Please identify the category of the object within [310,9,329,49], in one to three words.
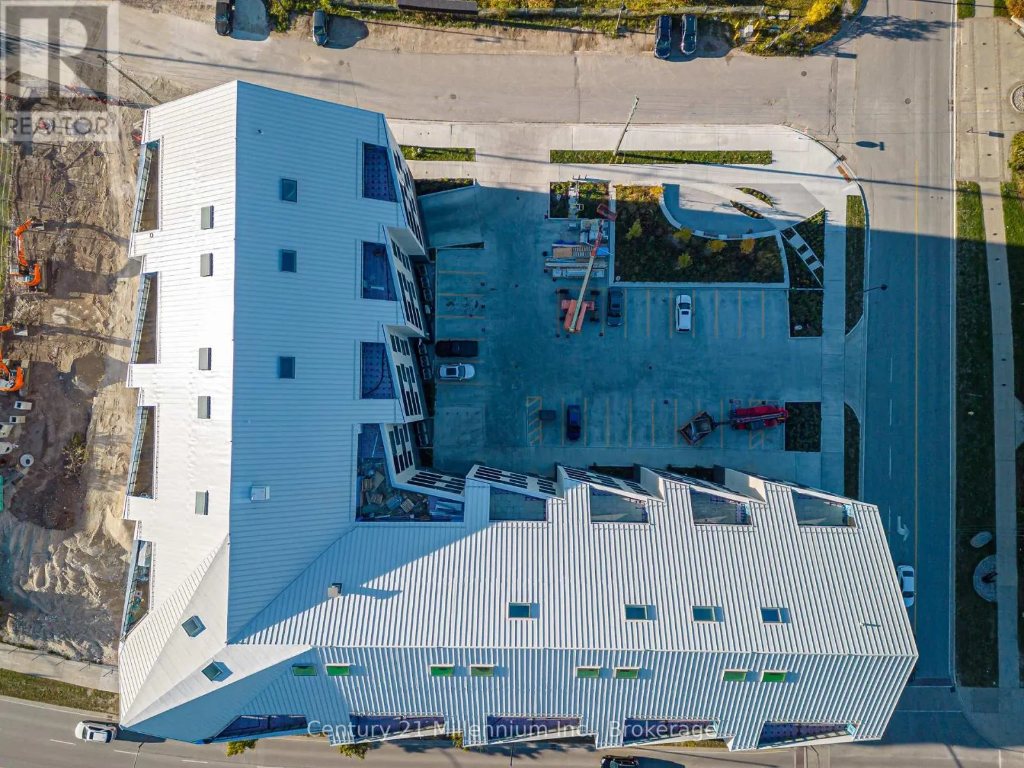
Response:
car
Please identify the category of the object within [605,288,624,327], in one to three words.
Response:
car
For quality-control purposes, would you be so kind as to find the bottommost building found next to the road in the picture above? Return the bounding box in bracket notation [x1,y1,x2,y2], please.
[118,79,920,751]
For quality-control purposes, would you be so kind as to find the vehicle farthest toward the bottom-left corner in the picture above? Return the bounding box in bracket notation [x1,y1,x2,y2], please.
[76,719,120,742]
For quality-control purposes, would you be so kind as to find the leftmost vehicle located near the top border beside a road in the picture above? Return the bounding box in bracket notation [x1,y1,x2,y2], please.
[213,0,235,37]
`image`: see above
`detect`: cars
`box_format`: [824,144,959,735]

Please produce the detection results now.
[679,14,699,56]
[213,0,235,37]
[76,719,120,742]
[565,404,583,440]
[896,564,916,605]
[435,339,480,358]
[310,9,329,49]
[438,363,475,381]
[674,294,693,333]
[653,15,673,60]
[605,288,624,327]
